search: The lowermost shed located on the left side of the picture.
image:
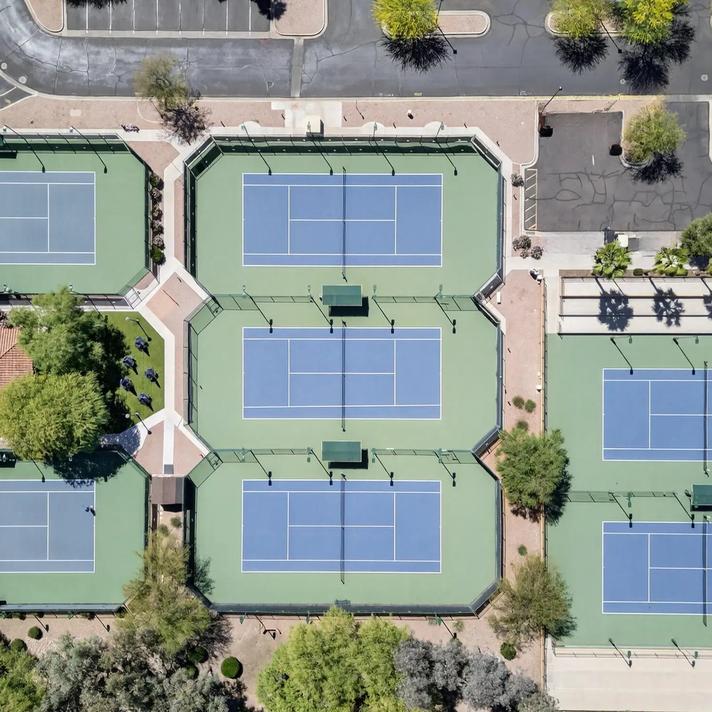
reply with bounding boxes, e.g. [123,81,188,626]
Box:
[151,475,186,505]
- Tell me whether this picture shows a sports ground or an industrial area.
sports ground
